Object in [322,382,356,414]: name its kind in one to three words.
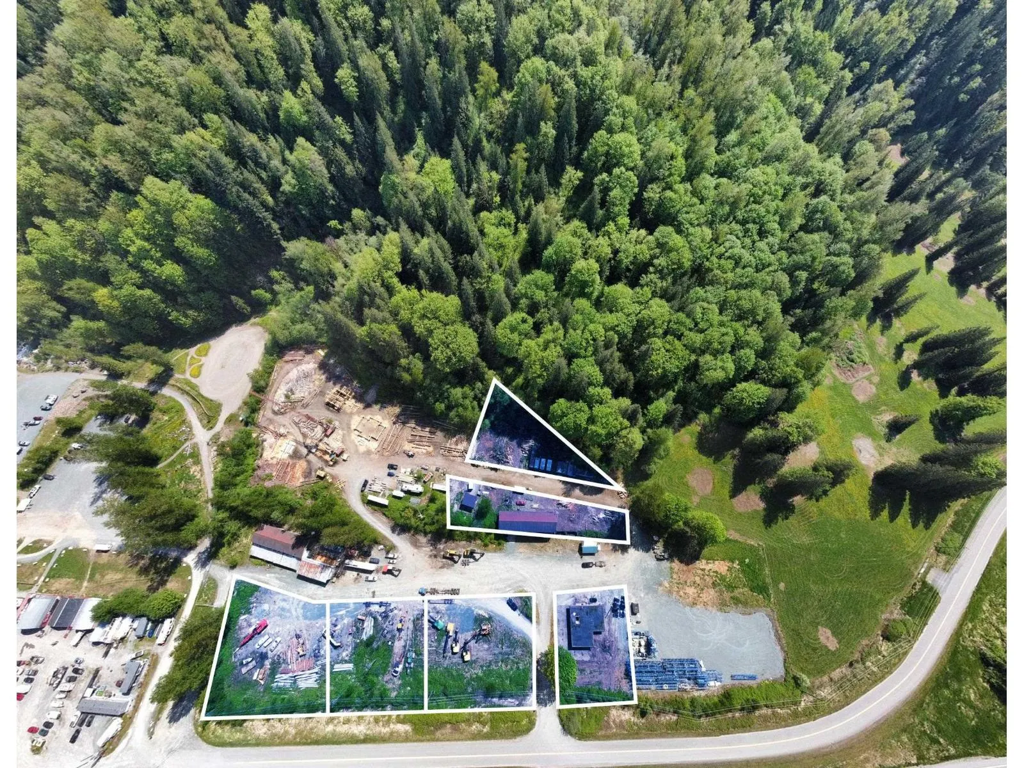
building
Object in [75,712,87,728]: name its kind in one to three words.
vehicle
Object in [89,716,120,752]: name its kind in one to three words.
bus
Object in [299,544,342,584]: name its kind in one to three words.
shed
